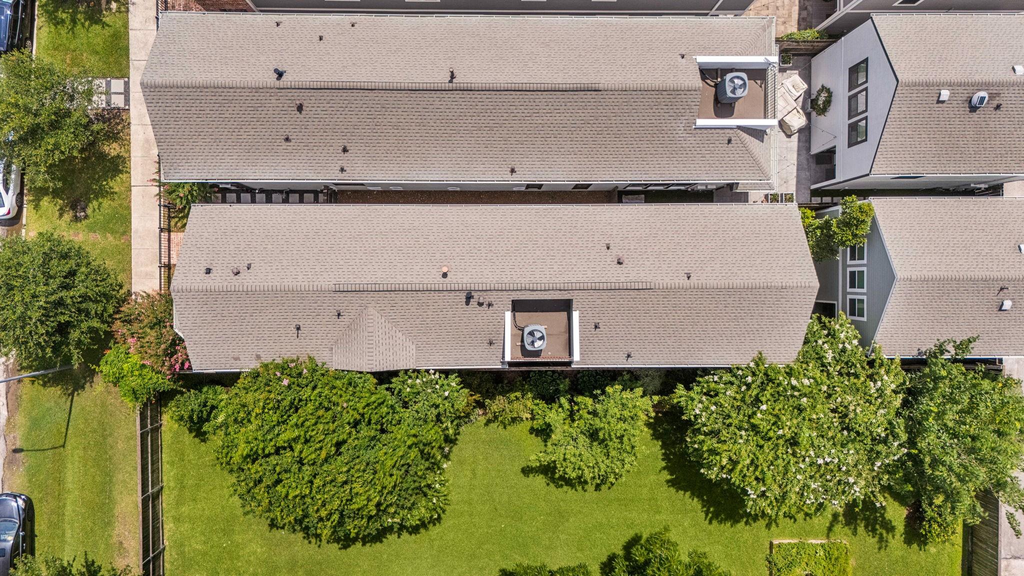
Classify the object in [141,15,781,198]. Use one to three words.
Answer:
house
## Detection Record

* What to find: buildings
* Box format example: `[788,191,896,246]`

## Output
[170,202,819,372]
[141,15,781,198]
[809,14,1024,192]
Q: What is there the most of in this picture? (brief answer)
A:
buildings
